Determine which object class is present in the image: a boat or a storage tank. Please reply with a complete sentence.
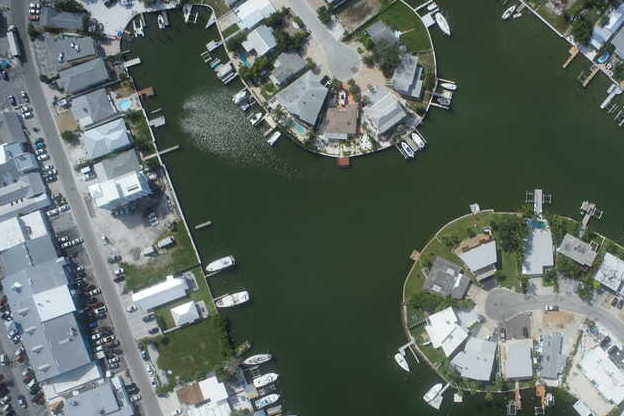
Visible in the photo is a boat.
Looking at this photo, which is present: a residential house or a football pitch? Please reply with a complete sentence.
I can see a residential house in this picture.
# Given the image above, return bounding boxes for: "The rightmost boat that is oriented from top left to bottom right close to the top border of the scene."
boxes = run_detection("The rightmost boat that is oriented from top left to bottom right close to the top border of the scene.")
[434,12,450,35]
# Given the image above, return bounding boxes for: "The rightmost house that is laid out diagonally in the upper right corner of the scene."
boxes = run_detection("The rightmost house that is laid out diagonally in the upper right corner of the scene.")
[593,5,624,46]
